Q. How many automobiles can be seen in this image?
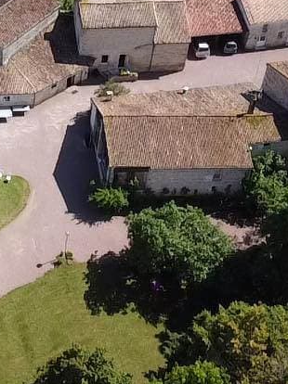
2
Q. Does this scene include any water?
No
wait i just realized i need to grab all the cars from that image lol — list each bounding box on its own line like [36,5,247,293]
[192,37,213,60]
[218,34,242,56]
